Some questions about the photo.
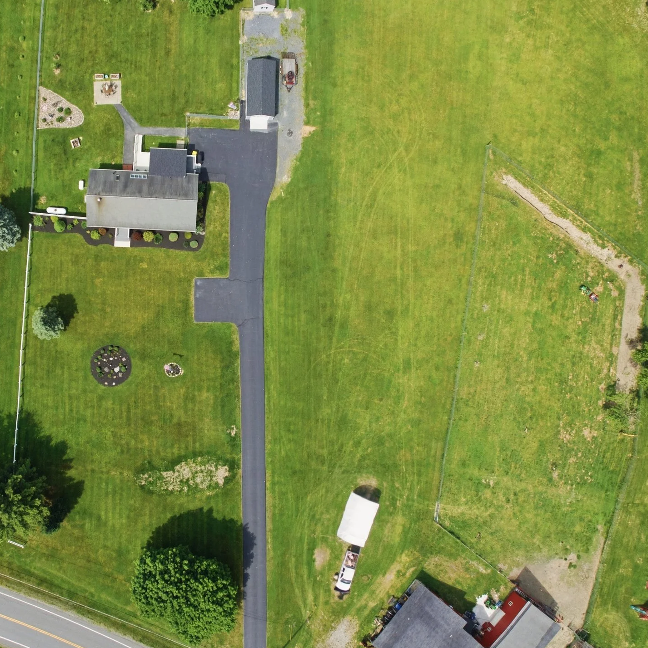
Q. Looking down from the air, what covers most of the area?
grass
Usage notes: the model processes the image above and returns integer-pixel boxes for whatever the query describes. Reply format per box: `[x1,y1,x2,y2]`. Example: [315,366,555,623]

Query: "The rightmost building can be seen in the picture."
[480,591,561,648]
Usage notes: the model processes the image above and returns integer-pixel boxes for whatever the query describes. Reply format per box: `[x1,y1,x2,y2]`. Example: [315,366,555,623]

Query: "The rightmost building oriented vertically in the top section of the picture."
[246,58,276,130]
